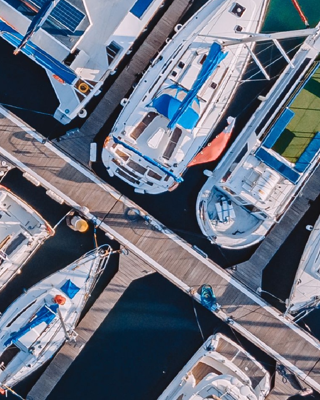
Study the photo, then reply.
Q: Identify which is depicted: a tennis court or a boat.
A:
boat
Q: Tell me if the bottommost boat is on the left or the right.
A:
right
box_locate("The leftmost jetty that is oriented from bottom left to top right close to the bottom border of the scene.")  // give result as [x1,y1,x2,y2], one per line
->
[21,245,155,400]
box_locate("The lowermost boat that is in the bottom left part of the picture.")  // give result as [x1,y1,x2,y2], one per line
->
[0,246,117,394]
